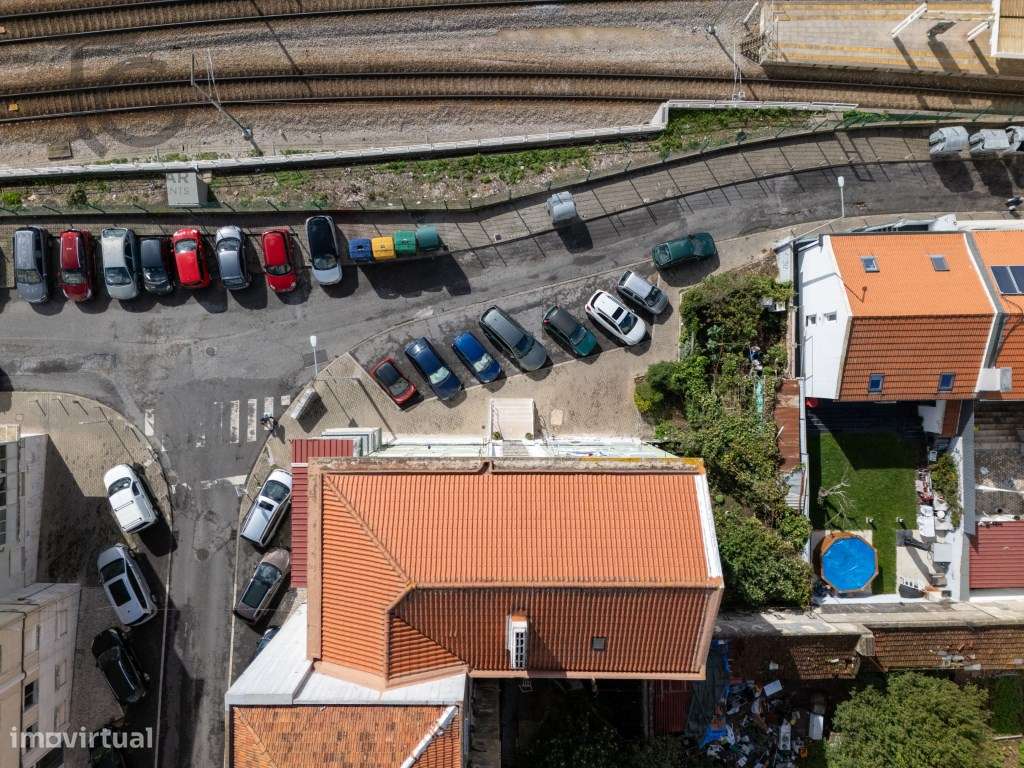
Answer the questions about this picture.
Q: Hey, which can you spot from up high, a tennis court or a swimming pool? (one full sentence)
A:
This aerial view contains a swimming pool.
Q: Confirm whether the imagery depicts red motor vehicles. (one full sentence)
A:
Yes, a red motor vehicle appears in the view.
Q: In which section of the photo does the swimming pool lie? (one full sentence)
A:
The swimming pool is located in the bottom right region of the scene.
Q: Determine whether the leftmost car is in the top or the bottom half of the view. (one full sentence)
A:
The leftmost car sits in the top half of the picture.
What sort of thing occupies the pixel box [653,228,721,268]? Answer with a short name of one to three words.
car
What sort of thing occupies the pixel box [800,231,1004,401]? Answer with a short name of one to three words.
house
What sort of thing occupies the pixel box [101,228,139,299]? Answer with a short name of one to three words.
car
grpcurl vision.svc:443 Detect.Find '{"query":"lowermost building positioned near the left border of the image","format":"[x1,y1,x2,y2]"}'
[0,586,79,768]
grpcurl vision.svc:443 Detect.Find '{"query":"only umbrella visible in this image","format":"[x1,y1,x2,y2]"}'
[896,531,939,551]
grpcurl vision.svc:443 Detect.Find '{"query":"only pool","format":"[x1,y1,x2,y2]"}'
[810,525,881,594]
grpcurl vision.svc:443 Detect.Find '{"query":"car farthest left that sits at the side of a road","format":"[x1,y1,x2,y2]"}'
[9,228,51,303]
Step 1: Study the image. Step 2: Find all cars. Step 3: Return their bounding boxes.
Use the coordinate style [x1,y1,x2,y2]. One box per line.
[101,462,159,535]
[450,328,504,385]
[210,226,250,292]
[373,358,417,405]
[542,303,601,359]
[653,228,721,268]
[170,227,211,290]
[239,622,285,676]
[234,544,290,621]
[240,467,290,543]
[55,232,97,302]
[584,285,650,347]
[138,238,174,296]
[101,228,139,299]
[406,337,463,402]
[261,229,296,292]
[307,216,343,286]
[613,263,673,317]
[9,228,51,303]
[96,546,156,625]
[91,628,150,705]
[479,303,546,373]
